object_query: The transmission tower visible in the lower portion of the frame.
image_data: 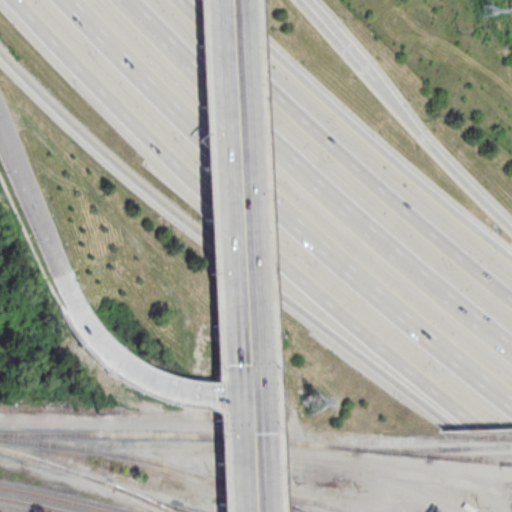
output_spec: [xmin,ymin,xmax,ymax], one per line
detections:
[296,389,343,418]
